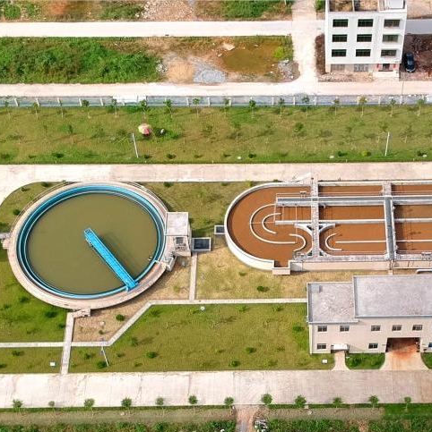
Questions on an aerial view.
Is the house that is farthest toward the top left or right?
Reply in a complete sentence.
The house that is farthest toward the top sits on the right side.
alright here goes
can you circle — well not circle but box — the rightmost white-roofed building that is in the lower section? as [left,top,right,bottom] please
[307,272,432,354]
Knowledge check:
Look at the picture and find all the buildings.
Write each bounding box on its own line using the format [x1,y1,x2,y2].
[307,272,432,354]
[162,212,191,275]
[323,0,405,79]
